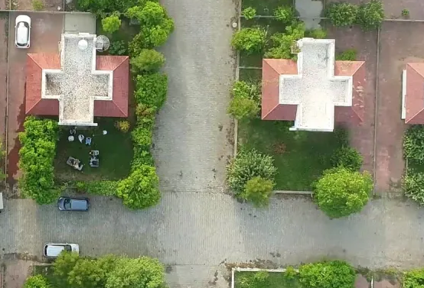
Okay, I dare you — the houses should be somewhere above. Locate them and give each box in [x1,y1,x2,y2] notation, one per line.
[25,35,130,129]
[260,39,365,134]
[400,62,424,124]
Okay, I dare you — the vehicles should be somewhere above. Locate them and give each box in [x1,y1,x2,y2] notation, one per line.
[57,195,90,213]
[14,16,31,48]
[43,241,79,257]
